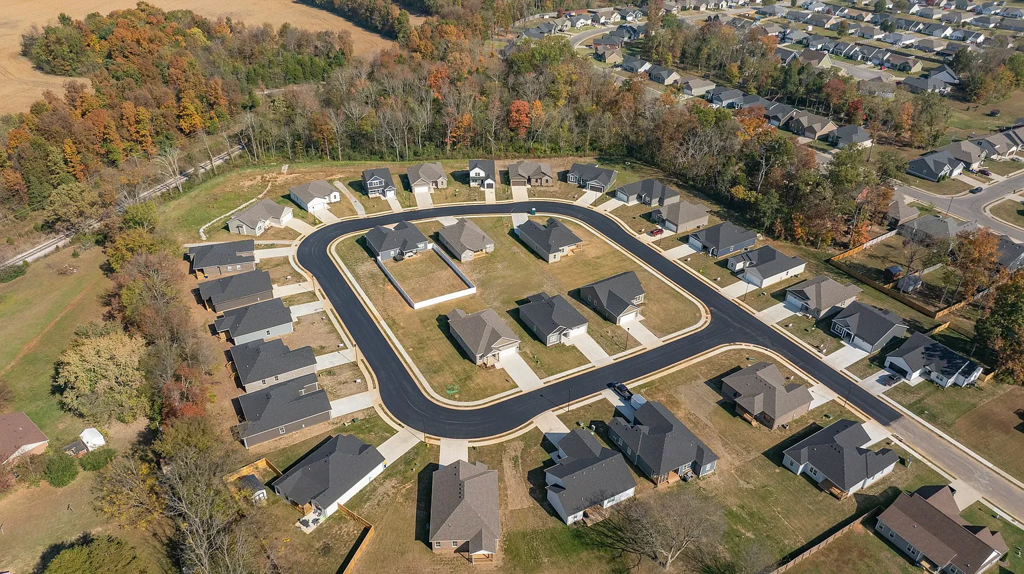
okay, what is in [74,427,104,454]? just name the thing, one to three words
shed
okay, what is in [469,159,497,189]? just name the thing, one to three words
house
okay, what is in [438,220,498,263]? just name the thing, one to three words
house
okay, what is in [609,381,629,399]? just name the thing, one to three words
vehicle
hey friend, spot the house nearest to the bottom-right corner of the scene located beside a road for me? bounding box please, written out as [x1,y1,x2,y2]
[875,482,1014,574]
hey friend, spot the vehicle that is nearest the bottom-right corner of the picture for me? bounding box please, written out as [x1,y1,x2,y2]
[881,372,907,386]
